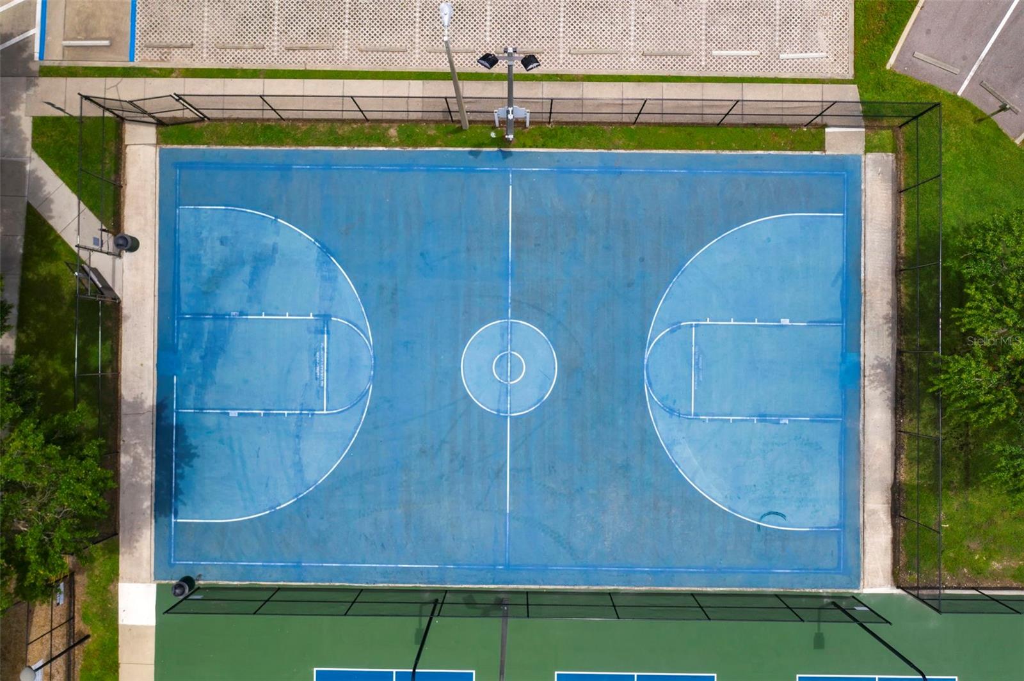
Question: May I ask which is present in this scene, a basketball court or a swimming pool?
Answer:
basketball court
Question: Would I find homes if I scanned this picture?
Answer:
No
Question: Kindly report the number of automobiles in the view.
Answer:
0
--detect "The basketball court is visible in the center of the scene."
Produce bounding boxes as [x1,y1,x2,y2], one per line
[151,144,865,593]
